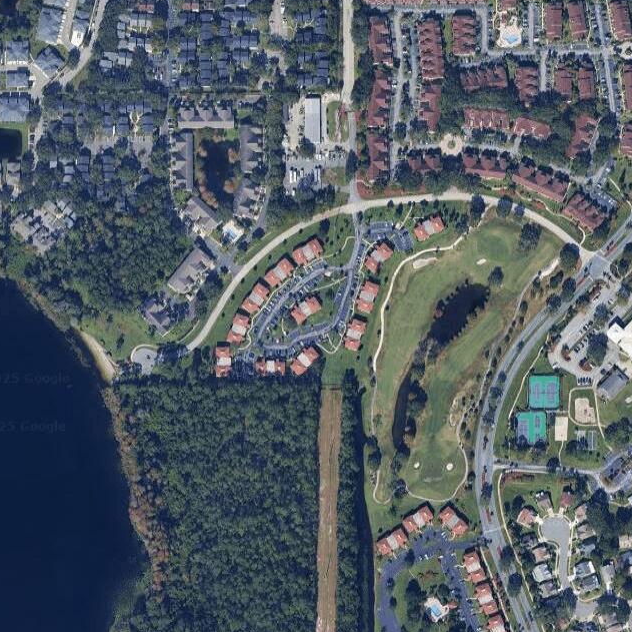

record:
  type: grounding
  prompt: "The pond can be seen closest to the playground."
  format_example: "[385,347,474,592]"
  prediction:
[393,281,490,455]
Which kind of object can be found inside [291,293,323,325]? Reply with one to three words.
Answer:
house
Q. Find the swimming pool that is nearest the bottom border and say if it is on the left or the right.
right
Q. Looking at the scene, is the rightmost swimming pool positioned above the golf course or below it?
above it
